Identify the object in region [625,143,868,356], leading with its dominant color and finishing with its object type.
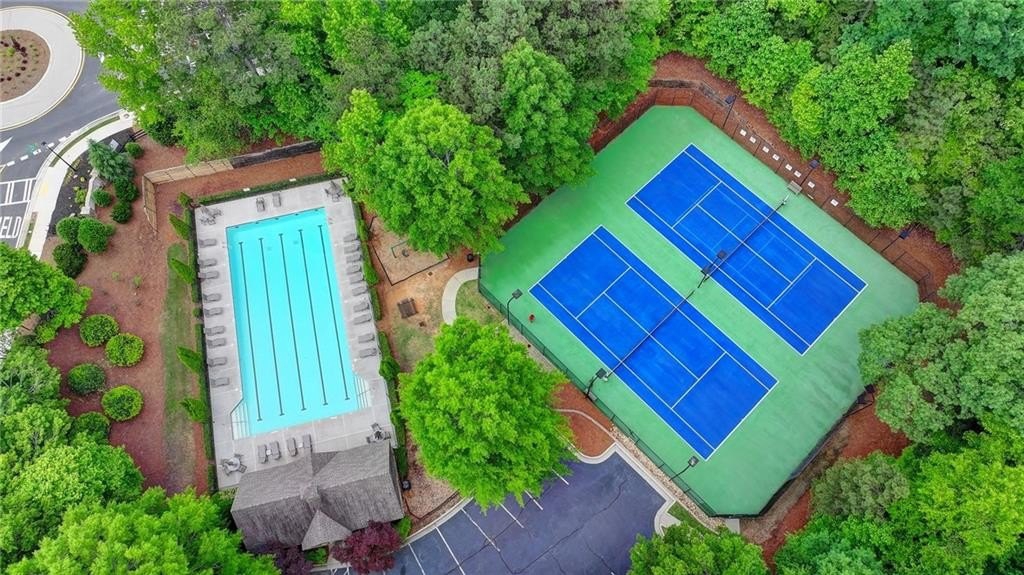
blue tennis court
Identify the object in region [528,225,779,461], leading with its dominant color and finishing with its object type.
blue tennis court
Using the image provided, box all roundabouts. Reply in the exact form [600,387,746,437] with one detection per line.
[0,6,84,130]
